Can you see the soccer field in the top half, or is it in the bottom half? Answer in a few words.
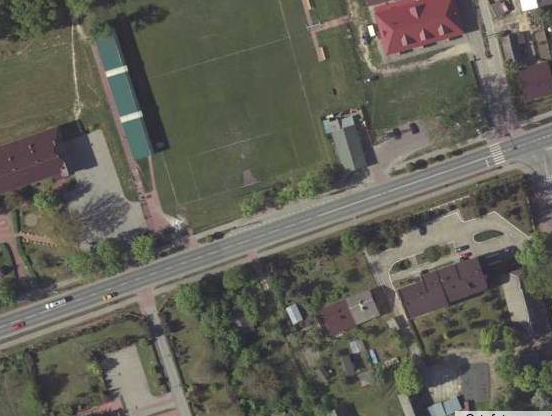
top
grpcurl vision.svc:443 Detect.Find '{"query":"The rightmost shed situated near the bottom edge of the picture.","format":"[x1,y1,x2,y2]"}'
[427,396,462,416]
